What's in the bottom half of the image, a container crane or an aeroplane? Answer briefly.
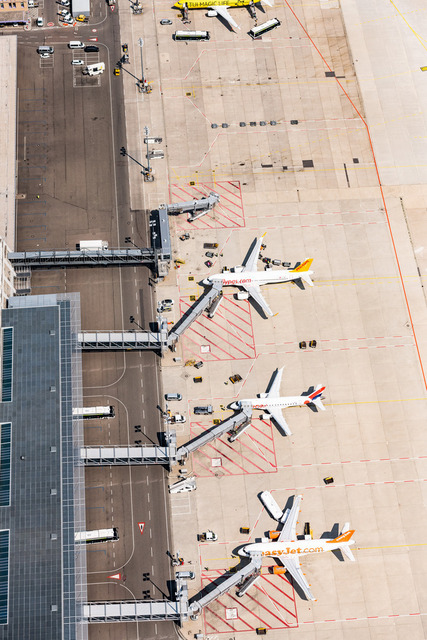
aeroplane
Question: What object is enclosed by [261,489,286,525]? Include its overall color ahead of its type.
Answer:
white truck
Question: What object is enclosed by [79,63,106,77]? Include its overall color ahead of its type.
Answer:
white vehicle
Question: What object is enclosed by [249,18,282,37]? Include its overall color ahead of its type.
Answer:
white vehicle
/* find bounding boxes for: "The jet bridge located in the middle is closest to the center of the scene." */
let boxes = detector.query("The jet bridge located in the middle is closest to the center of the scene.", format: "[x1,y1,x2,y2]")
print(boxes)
[169,281,225,352]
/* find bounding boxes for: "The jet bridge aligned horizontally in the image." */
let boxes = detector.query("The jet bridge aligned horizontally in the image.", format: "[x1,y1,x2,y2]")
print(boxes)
[159,192,223,227]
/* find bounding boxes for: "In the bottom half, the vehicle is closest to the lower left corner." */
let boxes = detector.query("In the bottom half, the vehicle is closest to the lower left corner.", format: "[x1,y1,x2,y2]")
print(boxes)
[74,528,119,545]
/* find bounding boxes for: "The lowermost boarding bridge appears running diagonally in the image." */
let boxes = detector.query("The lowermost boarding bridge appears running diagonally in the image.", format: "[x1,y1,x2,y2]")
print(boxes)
[188,549,265,621]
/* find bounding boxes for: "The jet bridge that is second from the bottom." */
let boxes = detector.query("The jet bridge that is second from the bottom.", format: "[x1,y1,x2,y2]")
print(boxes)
[177,401,257,466]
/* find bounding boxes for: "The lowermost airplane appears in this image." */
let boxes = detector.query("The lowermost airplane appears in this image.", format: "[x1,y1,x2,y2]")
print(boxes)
[241,492,356,599]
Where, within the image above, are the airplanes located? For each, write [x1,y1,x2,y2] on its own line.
[174,0,272,28]
[241,492,356,599]
[207,230,316,316]
[231,364,324,435]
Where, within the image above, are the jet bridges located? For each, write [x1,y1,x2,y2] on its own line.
[169,281,225,352]
[177,401,257,466]
[188,549,265,621]
[159,192,223,227]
